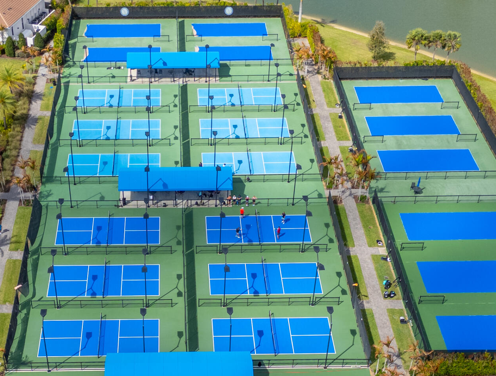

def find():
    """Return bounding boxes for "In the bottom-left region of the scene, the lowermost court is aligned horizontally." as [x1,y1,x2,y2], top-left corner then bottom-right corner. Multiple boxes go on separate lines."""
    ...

[36,315,160,359]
